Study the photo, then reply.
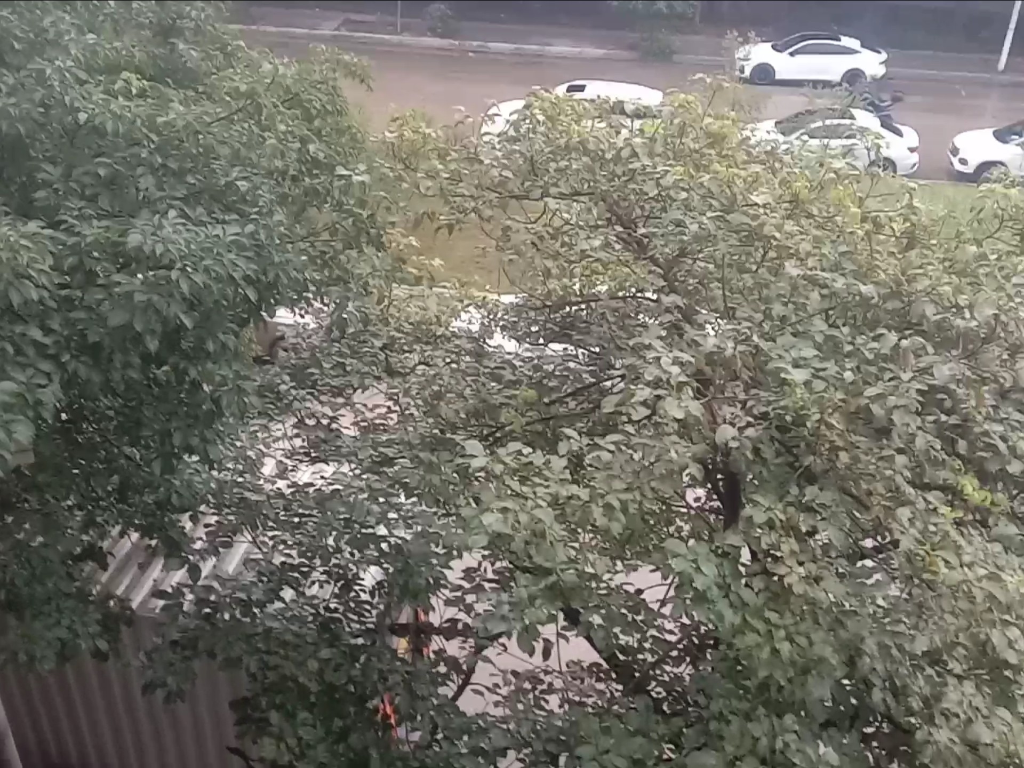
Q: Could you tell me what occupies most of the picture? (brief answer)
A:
trees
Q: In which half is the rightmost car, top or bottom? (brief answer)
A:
top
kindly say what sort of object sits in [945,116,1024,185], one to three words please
car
